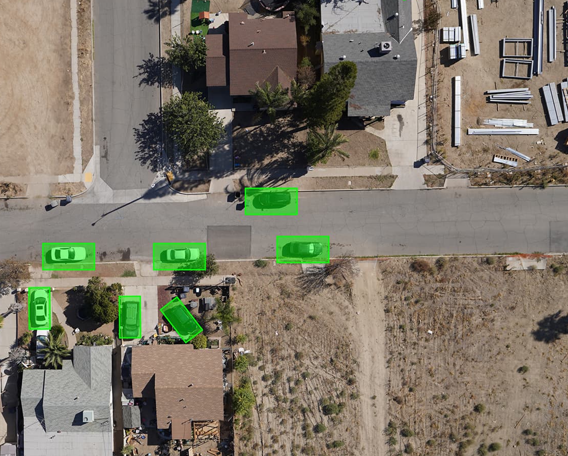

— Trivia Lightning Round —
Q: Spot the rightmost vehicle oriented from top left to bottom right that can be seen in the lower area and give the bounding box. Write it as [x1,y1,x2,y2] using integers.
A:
[167,302,197,338]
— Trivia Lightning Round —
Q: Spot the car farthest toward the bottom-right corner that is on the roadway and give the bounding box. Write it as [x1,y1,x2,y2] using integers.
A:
[286,241,321,257]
